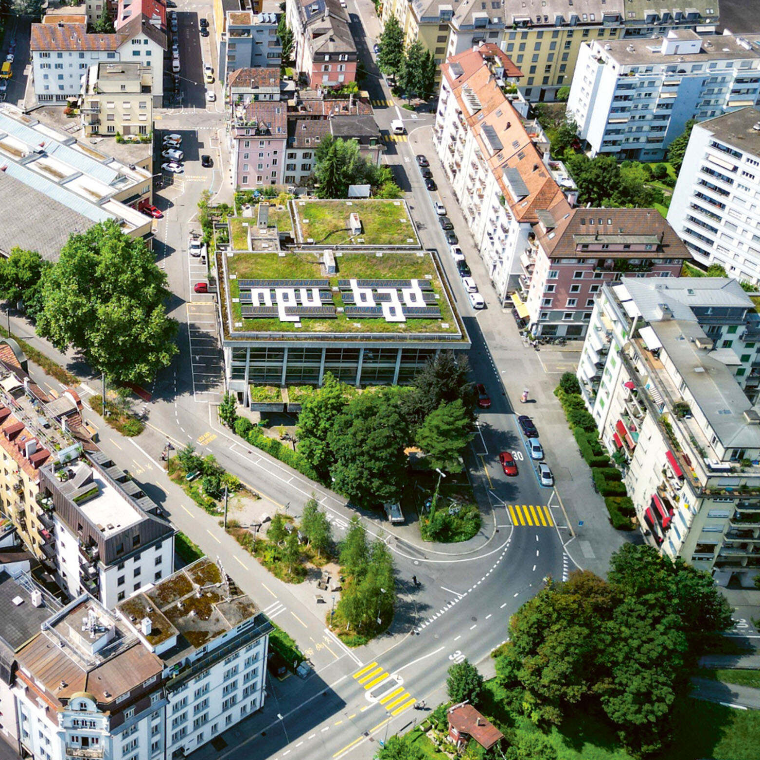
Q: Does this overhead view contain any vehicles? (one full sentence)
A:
Yes, this view includes a vehicle.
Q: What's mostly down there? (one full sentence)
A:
The bulk of the photo consists of buildings.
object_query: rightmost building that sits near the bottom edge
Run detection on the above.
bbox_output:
[447,700,504,758]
